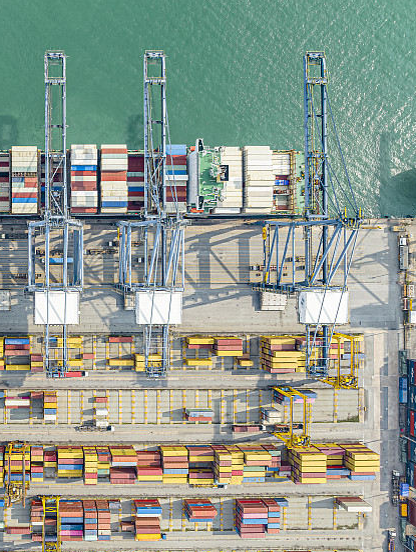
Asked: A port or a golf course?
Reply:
port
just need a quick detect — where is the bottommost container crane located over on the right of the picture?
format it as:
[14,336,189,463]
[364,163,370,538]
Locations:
[270,387,314,451]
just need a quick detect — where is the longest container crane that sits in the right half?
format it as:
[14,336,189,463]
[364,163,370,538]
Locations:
[239,46,370,381]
